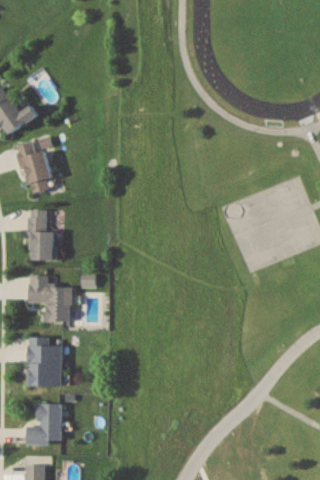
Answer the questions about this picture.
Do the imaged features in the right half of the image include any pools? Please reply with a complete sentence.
No, no pool can be made out in the right half of the image.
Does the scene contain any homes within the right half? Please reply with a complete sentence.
No, I can find no home within the right half.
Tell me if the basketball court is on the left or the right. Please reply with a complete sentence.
The basketball court sits on the right side.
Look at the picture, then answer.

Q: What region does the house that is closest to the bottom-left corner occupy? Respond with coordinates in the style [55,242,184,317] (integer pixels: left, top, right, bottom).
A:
[26,464,46,480]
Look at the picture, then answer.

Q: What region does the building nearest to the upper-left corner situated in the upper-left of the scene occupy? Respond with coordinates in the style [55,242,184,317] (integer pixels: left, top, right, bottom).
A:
[0,92,40,136]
